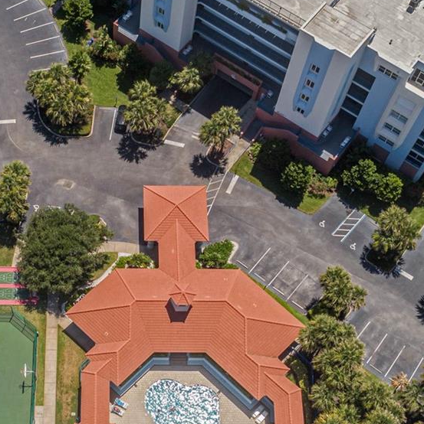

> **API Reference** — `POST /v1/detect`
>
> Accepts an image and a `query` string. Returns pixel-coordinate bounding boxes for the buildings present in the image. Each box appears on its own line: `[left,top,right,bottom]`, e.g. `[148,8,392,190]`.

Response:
[66,186,303,424]
[98,0,424,181]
